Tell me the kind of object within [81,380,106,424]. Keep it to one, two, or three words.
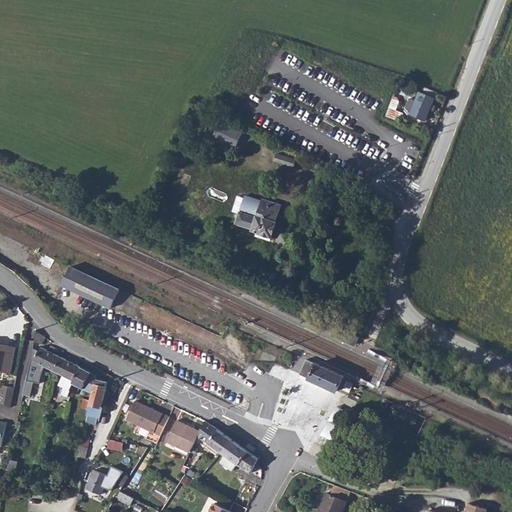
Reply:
house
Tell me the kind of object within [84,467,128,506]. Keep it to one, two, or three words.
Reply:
house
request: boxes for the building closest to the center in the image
[232,196,281,243]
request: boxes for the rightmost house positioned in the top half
[405,92,434,120]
